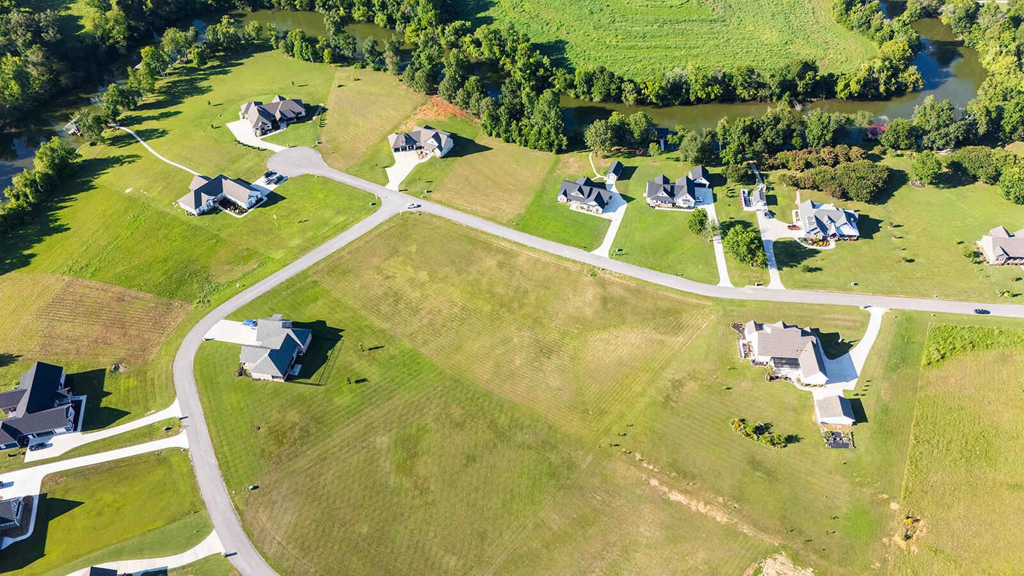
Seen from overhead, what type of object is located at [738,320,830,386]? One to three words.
house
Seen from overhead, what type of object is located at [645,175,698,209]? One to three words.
house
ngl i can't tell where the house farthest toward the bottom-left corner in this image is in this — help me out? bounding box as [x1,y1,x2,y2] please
[0,494,29,550]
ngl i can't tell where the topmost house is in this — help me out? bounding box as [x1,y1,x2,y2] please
[240,95,309,136]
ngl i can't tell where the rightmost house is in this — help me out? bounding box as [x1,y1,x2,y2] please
[978,225,1024,267]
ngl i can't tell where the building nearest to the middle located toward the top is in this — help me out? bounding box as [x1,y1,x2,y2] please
[555,177,615,218]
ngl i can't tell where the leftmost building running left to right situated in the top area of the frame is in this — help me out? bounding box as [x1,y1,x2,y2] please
[175,174,266,218]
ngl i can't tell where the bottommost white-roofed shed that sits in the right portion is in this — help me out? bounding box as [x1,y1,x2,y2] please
[814,395,858,427]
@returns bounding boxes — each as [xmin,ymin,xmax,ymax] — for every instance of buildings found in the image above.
[814,395,858,427]
[80,565,123,576]
[0,362,83,453]
[750,190,767,209]
[0,494,29,550]
[555,177,615,218]
[602,161,627,186]
[385,125,454,160]
[794,199,859,245]
[645,175,698,209]
[738,320,830,386]
[237,314,315,385]
[175,174,266,218]
[978,225,1024,267]
[240,95,309,136]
